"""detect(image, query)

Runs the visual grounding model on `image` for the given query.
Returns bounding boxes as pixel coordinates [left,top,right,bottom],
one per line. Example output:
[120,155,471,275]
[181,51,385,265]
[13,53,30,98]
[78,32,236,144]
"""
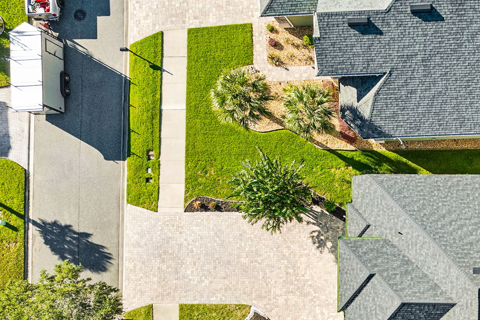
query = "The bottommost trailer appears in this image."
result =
[2,21,72,121]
